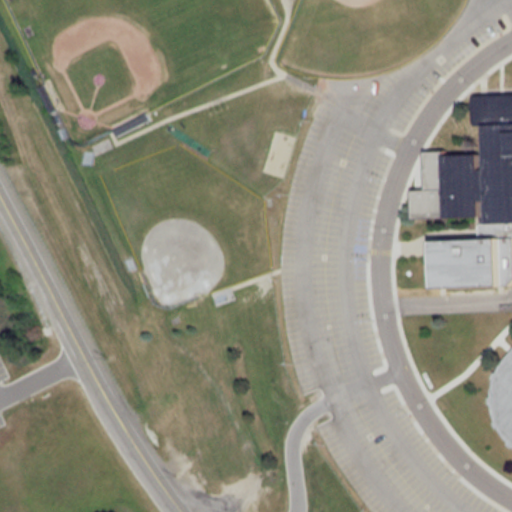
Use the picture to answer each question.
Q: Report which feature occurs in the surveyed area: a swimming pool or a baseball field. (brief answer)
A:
baseball field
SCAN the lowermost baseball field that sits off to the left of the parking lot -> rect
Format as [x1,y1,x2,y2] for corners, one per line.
[102,146,271,306]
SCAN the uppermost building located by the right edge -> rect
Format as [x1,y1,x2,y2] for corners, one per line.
[410,92,512,237]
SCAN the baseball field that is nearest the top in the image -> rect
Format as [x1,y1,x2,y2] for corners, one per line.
[2,0,280,143]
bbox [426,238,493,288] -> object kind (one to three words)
building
